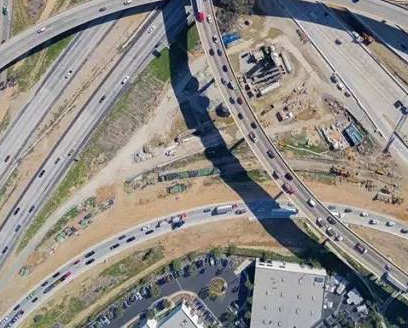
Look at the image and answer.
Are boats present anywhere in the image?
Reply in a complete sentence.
No, there's no boat here.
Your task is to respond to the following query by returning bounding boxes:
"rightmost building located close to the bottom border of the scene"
[249,258,326,328]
